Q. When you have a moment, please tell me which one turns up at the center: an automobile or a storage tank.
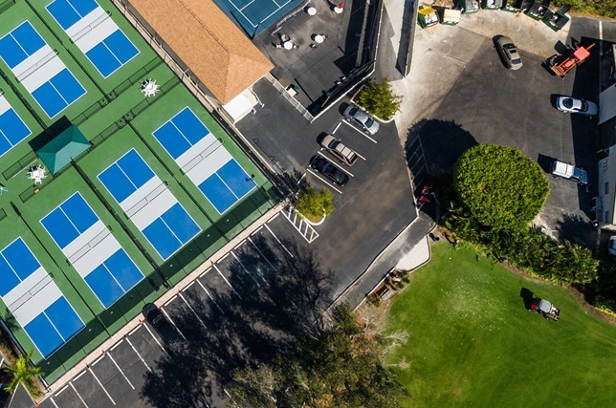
automobile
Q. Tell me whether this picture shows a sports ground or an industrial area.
sports ground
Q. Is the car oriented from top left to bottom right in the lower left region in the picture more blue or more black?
black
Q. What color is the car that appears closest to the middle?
black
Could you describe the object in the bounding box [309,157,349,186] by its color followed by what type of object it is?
black car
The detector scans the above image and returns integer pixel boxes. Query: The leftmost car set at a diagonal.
[144,304,178,346]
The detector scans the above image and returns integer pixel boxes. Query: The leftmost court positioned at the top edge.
[0,19,87,119]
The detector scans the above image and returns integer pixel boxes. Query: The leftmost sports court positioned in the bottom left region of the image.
[0,237,86,358]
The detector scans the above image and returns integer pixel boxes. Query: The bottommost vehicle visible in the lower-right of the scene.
[525,296,563,325]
